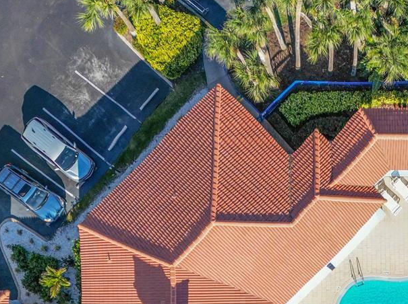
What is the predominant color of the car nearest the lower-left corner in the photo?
blue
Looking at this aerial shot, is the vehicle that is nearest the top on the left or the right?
left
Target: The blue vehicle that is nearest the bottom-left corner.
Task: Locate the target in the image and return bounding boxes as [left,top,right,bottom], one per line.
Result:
[0,163,69,224]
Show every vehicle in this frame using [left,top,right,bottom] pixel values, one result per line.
[23,118,101,184]
[0,163,69,224]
